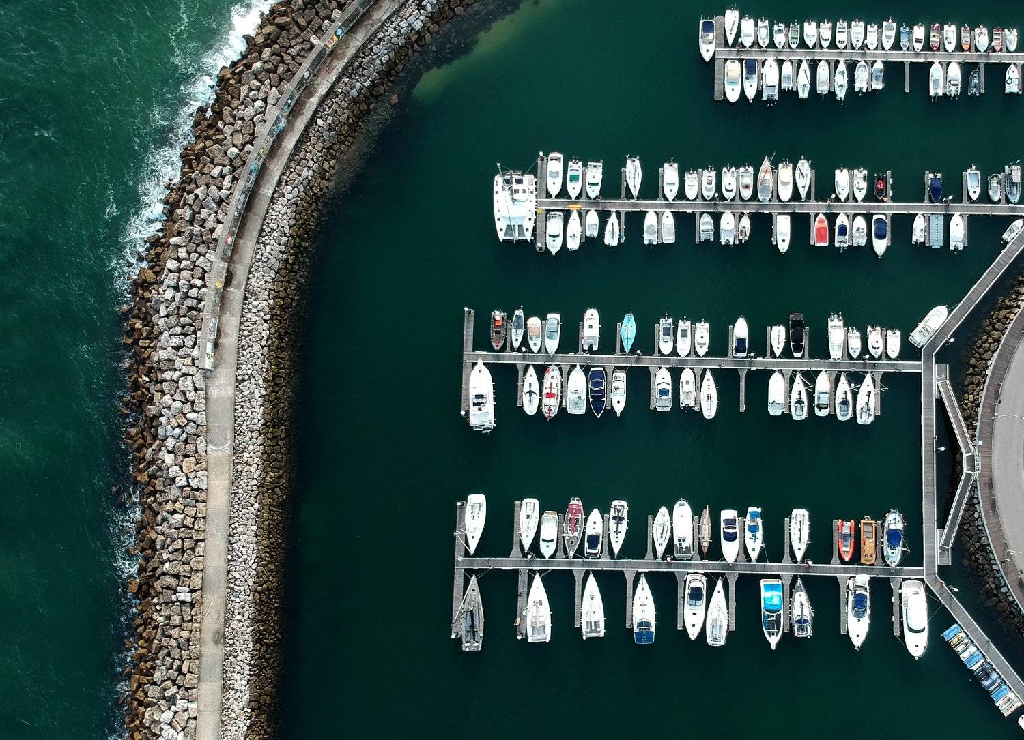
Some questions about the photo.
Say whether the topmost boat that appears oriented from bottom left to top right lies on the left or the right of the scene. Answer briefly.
right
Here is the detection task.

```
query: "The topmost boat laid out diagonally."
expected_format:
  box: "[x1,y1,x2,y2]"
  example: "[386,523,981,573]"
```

[1000,219,1024,245]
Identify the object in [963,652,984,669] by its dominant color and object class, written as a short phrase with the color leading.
blue boat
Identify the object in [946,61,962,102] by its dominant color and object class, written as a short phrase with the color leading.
white boat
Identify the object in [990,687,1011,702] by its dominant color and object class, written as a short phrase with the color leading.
blue boat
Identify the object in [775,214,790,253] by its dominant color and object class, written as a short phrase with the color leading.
white boat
